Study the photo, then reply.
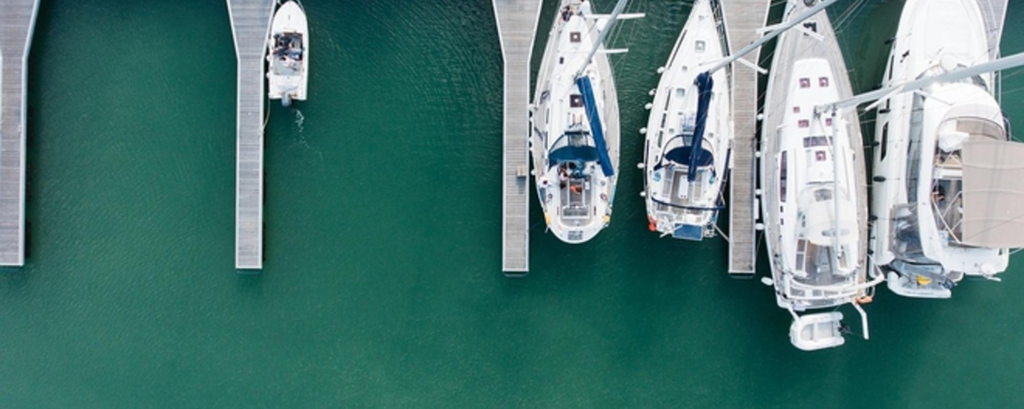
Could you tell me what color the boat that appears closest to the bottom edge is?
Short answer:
white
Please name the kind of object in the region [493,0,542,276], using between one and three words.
pier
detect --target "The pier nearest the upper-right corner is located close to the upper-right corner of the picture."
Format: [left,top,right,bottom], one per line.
[981,0,1011,109]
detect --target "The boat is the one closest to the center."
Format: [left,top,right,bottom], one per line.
[533,0,646,242]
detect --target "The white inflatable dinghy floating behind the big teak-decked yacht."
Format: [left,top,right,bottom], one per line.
[791,313,848,350]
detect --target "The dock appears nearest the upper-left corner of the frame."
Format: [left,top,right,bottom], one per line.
[0,0,40,270]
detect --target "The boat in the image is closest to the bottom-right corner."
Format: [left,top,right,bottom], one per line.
[886,263,957,297]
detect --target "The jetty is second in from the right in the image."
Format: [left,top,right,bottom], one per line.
[719,0,771,277]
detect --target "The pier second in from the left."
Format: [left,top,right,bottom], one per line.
[227,0,277,273]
